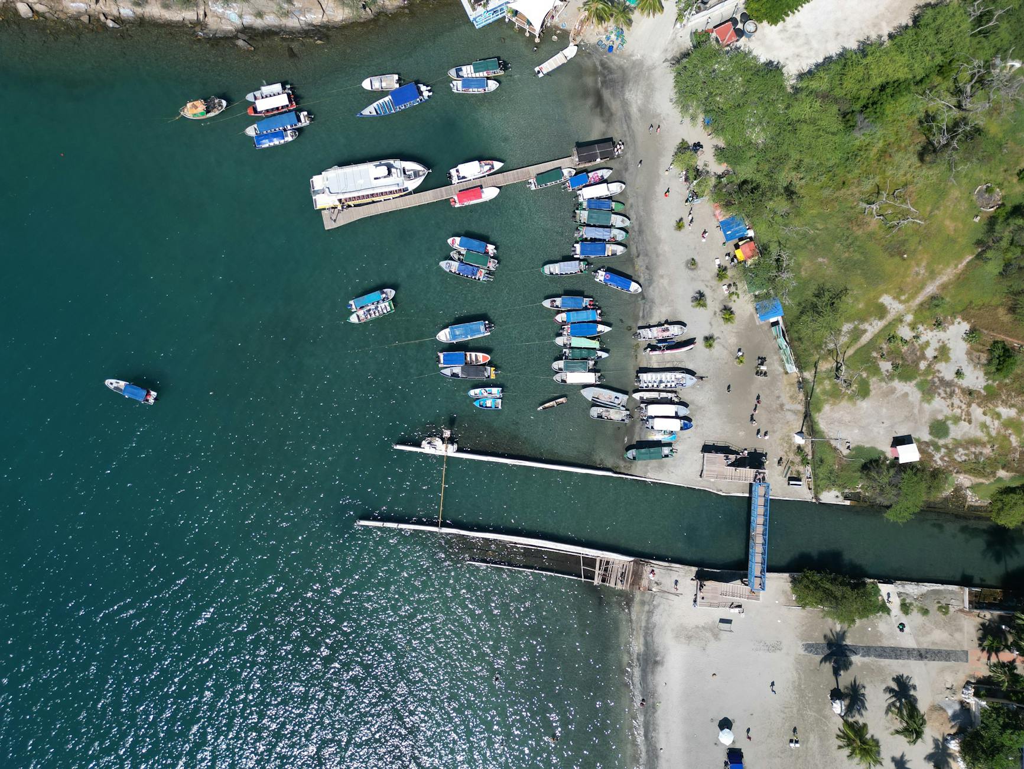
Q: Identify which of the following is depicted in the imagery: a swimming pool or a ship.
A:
ship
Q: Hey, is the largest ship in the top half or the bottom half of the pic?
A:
top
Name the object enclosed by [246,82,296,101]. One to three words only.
boat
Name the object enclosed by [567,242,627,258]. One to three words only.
boat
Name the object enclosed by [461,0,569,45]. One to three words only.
building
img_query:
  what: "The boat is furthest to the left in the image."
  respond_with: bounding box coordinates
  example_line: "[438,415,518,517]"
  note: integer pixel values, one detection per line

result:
[105,380,160,404]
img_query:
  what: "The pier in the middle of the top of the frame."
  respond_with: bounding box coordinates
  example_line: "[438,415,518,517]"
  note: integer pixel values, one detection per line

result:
[322,150,610,230]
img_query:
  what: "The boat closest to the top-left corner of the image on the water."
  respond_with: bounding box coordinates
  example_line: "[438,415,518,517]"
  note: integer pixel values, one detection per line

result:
[179,98,228,115]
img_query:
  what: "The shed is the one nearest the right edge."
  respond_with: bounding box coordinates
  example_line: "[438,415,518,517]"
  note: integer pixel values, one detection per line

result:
[890,443,919,463]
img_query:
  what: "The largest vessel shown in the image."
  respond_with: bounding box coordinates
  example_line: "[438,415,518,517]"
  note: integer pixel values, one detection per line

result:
[311,158,433,210]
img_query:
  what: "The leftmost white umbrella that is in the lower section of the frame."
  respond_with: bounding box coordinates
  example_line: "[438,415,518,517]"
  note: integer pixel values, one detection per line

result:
[716,726,732,742]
